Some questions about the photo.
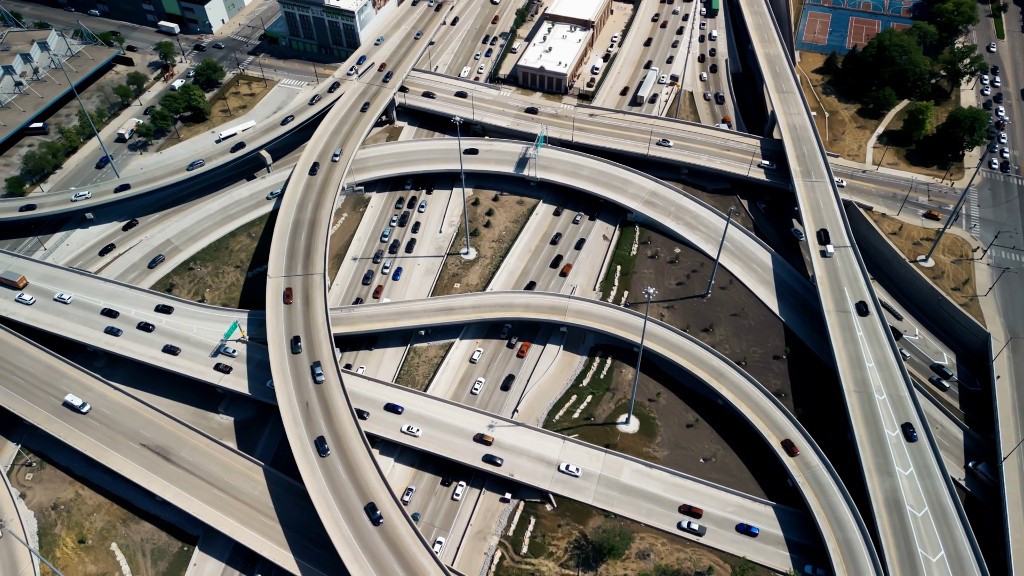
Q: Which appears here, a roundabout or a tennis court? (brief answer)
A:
tennis court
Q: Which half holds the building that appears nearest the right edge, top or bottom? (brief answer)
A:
top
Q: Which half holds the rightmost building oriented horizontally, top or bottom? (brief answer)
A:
top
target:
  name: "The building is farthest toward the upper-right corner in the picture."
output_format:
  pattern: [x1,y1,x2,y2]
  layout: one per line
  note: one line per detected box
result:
[516,0,622,94]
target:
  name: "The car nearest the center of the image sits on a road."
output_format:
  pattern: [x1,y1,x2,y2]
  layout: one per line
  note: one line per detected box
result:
[524,278,536,291]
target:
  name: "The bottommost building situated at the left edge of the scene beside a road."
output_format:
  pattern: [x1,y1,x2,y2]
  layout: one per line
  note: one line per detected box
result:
[0,28,124,150]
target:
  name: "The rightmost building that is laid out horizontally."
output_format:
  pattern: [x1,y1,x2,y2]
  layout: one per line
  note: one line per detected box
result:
[272,0,404,53]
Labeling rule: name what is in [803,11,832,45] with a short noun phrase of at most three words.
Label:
tennis court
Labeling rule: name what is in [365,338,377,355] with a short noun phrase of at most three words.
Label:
vehicle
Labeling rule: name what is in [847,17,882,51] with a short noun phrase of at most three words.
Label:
tennis court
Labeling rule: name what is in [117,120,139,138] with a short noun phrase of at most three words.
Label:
vehicle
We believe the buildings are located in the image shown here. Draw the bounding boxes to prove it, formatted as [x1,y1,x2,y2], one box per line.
[516,0,622,94]
[0,28,124,150]
[11,0,251,34]
[272,0,404,53]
